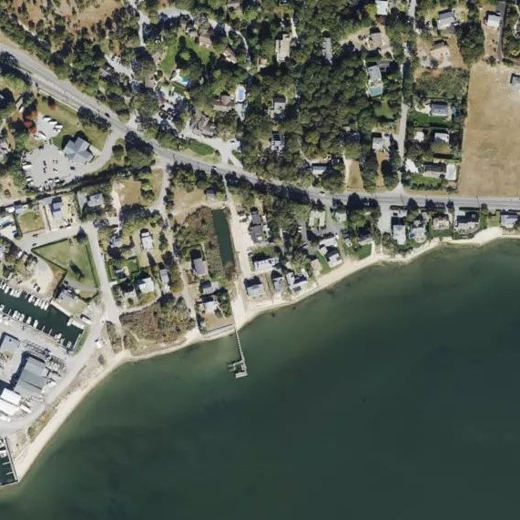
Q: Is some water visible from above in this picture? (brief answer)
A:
Yes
